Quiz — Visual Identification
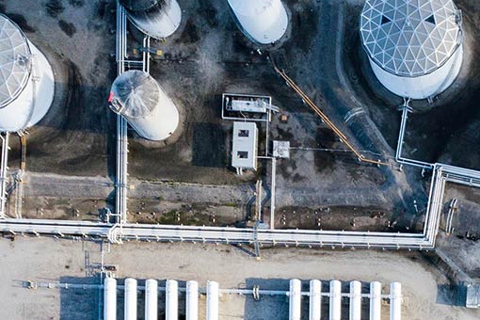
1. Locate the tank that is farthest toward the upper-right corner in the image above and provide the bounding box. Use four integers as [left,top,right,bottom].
[360,0,468,102]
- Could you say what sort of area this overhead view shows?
industrial area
